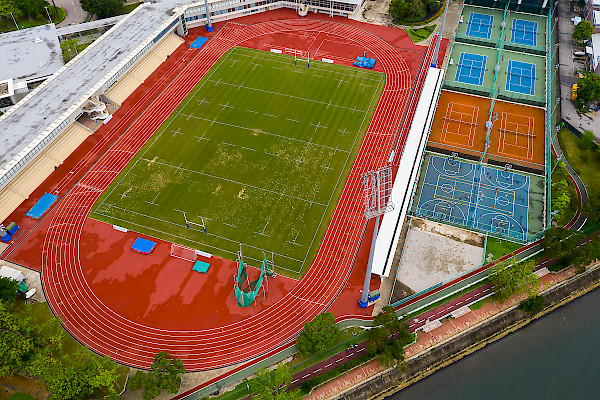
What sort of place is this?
sports ground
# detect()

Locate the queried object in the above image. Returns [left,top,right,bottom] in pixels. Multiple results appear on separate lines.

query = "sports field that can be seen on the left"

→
[88,46,386,280]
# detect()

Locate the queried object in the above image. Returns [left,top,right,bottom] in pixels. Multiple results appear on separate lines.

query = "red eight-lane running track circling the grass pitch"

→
[42,19,412,369]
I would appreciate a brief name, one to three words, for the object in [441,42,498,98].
tennis court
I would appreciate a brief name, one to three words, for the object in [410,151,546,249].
sports court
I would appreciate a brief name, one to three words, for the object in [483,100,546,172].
tennis court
